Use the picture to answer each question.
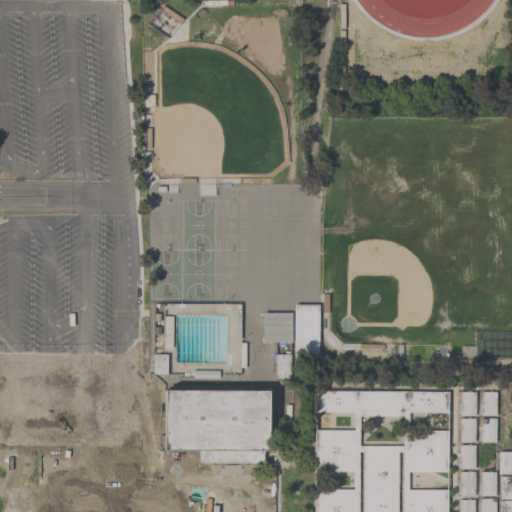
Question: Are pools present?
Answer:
Yes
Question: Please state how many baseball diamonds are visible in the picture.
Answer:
2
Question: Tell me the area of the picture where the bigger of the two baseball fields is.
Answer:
top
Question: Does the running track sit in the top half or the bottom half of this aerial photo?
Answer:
top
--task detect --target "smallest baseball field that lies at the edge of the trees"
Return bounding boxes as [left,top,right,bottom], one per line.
[341,239,432,332]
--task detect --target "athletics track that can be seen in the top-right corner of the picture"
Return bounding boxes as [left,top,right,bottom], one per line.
[353,0,499,40]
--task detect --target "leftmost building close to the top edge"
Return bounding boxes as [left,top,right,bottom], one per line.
[150,0,187,38]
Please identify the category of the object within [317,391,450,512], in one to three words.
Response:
building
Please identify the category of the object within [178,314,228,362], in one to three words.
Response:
swimming pool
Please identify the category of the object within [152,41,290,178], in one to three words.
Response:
baseball field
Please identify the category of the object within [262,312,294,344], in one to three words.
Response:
building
